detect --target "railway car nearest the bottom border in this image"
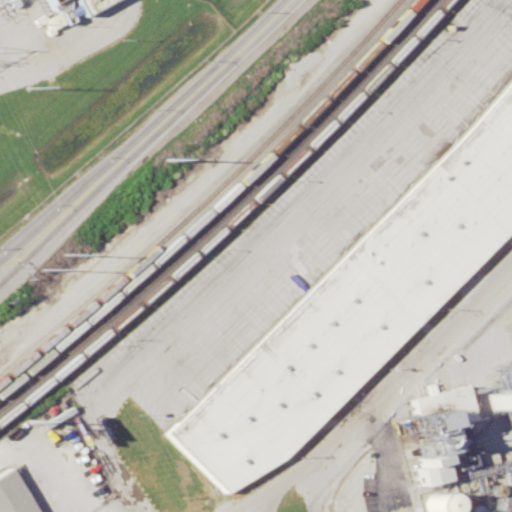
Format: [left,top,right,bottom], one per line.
[0,402,31,432]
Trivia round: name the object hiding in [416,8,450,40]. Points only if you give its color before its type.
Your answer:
white rail car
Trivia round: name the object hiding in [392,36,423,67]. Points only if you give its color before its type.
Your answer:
white rail car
